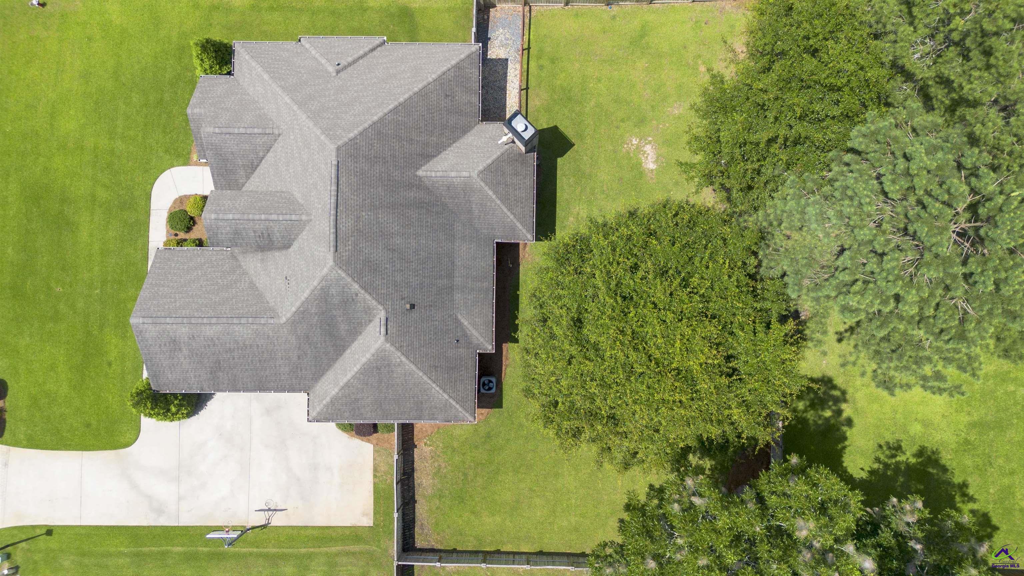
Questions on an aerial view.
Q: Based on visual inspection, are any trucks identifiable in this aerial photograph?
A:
No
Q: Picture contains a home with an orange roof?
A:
No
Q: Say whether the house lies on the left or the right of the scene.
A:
left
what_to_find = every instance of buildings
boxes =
[131,35,539,423]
